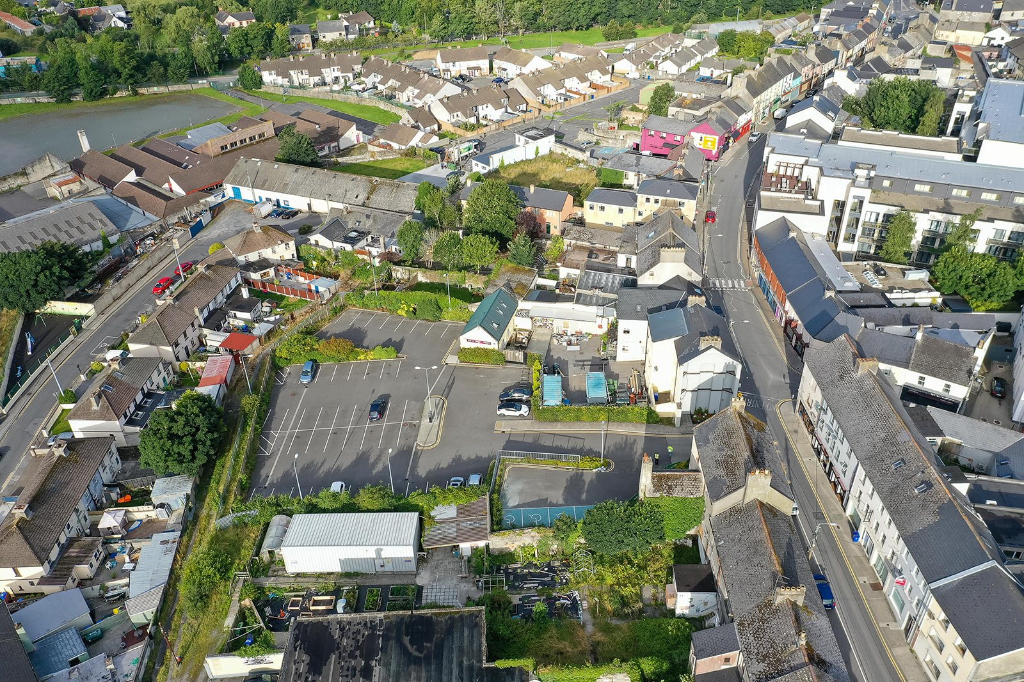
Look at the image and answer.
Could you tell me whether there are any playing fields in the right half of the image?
No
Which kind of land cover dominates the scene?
buildings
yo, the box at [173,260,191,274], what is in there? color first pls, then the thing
red car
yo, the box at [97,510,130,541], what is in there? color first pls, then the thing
white gazebo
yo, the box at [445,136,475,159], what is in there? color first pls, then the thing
white truck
